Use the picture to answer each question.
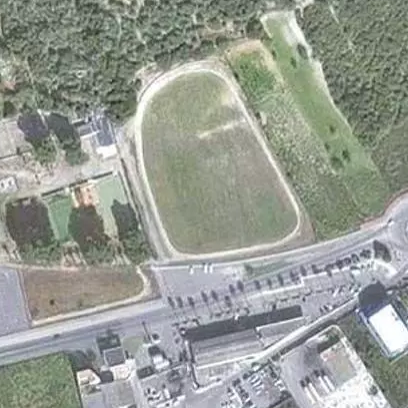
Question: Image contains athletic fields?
Yes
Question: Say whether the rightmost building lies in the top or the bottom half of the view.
bottom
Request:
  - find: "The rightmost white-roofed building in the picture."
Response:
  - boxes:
[368,304,408,356]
